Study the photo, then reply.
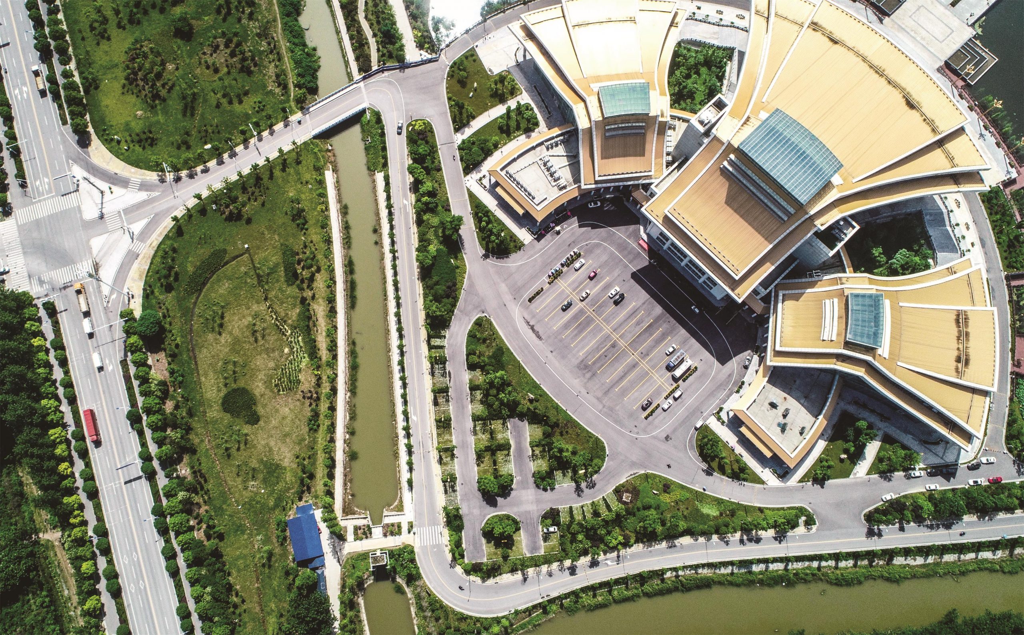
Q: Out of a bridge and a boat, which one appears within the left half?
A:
bridge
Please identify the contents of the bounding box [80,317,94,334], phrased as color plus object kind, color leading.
white vehicle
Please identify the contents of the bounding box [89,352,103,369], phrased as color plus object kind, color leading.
white vehicle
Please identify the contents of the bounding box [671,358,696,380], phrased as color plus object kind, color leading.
white bus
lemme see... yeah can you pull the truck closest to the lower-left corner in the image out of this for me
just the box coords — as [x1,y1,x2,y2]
[78,408,100,443]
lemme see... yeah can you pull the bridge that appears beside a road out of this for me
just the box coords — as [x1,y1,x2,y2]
[303,77,368,137]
